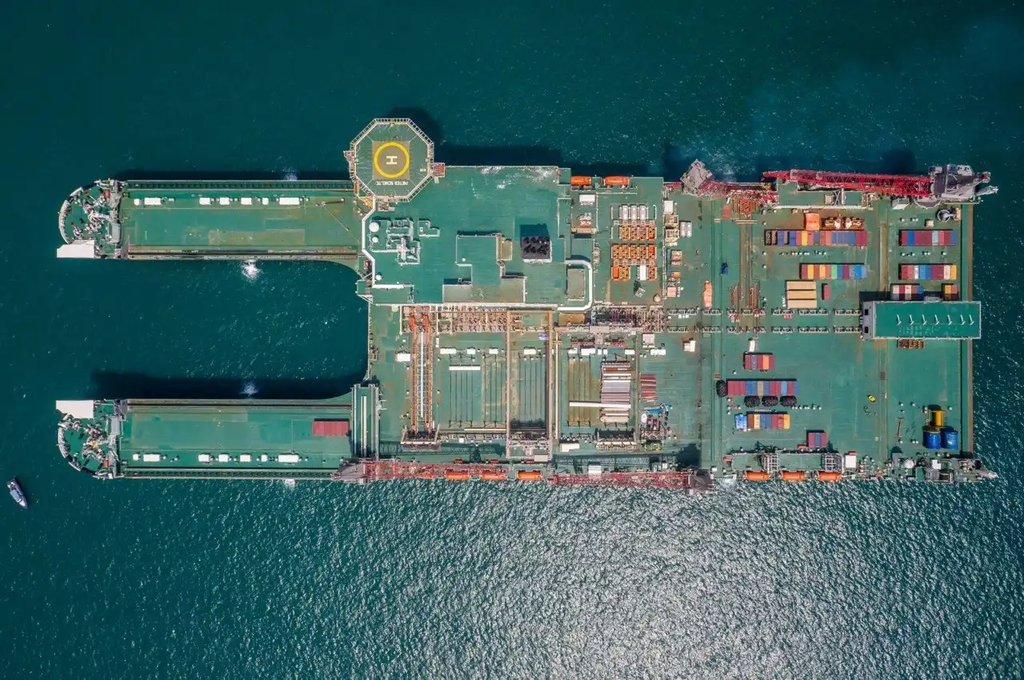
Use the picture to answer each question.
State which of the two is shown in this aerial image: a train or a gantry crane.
gantry crane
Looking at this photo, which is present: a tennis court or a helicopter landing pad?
helicopter landing pad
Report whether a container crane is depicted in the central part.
Yes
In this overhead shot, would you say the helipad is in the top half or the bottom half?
top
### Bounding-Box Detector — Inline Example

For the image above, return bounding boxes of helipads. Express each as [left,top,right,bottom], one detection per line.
[344,118,446,212]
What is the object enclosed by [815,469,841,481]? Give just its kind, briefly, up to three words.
boat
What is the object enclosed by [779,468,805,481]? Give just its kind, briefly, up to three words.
boat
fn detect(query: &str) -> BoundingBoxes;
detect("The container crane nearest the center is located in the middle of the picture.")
[506,311,562,462]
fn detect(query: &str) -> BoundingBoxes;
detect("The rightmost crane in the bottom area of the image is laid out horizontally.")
[546,462,713,494]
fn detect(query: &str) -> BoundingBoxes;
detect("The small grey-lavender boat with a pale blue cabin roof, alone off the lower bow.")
[3,477,27,509]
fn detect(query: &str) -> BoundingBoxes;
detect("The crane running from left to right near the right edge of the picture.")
[759,165,1000,209]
